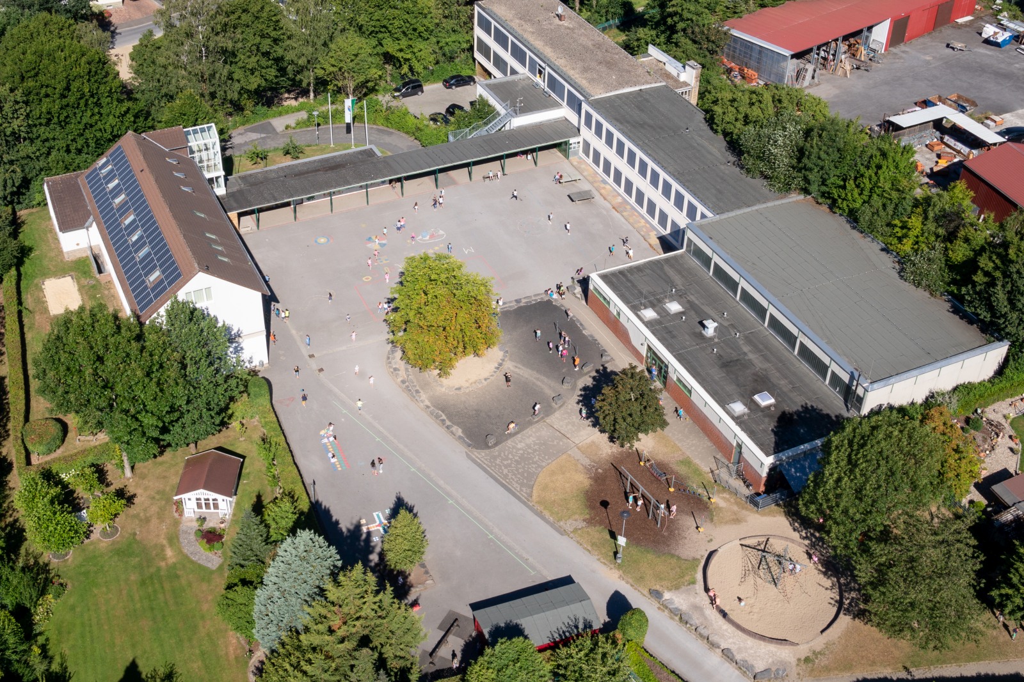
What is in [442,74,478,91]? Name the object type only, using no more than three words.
car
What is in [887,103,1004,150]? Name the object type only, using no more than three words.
shed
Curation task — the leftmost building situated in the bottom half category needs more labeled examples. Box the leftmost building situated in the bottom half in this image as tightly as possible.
[172,440,244,521]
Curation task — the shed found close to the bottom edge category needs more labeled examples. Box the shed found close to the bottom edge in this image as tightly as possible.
[476,581,607,666]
